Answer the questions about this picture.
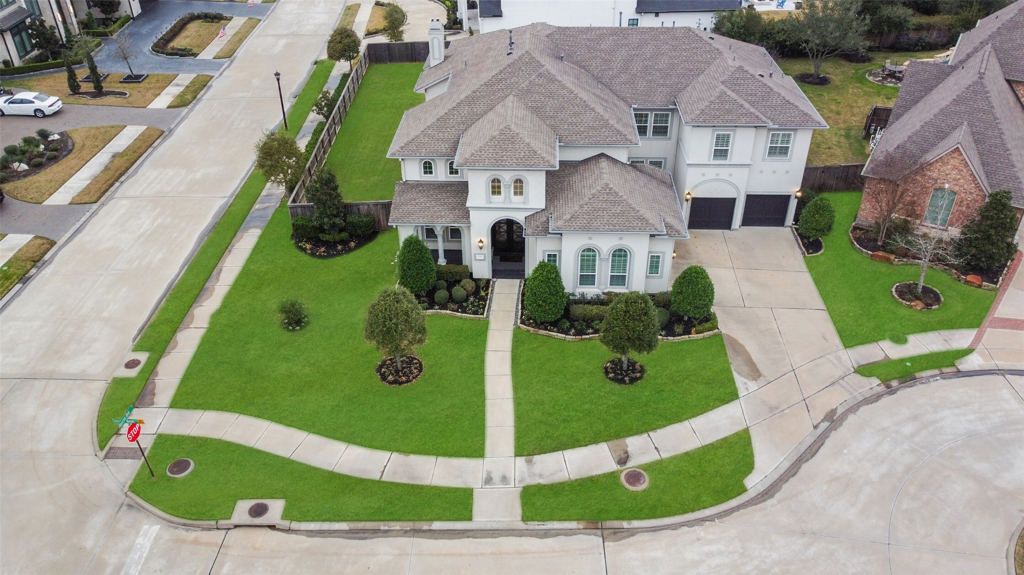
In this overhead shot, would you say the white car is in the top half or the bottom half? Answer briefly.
top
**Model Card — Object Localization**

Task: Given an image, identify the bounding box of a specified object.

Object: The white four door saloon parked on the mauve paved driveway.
[0,89,63,116]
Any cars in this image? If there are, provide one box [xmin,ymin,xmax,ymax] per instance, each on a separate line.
[0,89,63,116]
[0,183,5,197]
